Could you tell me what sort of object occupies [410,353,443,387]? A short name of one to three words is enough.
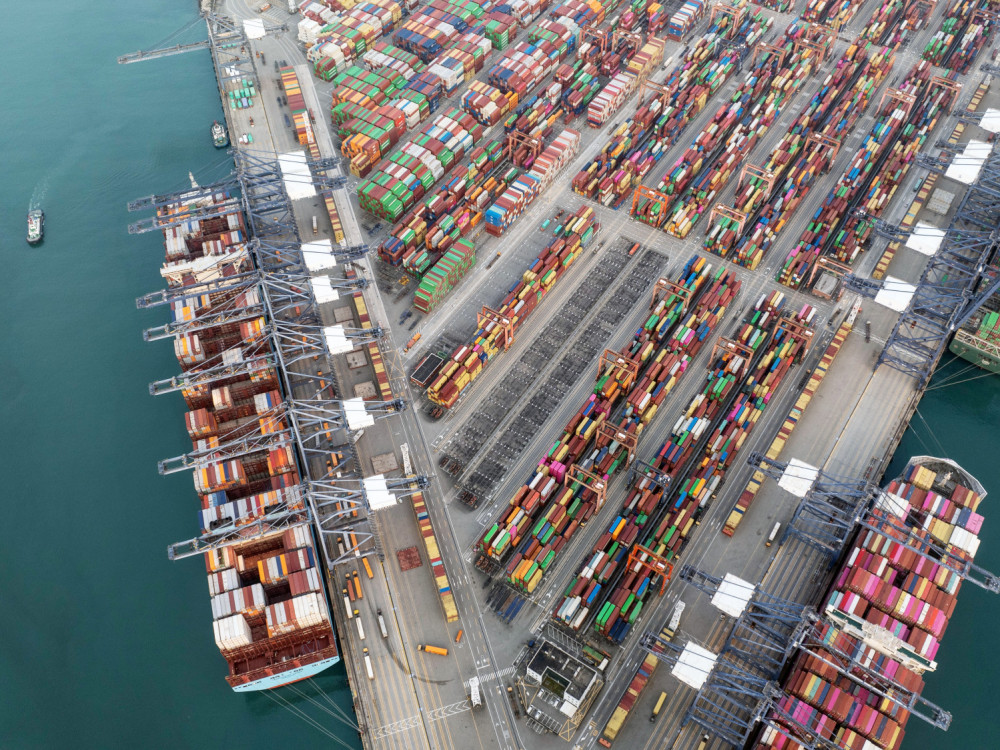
shed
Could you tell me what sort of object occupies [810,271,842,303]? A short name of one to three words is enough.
shed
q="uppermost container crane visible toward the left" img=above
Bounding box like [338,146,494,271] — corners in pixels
[110,5,284,104]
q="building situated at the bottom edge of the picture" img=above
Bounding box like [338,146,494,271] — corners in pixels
[526,640,599,719]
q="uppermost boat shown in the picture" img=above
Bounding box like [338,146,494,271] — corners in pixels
[212,122,228,151]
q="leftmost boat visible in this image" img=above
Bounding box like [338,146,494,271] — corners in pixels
[28,212,47,246]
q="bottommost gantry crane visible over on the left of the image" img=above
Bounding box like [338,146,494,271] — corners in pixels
[167,473,424,579]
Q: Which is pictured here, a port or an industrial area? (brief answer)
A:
port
